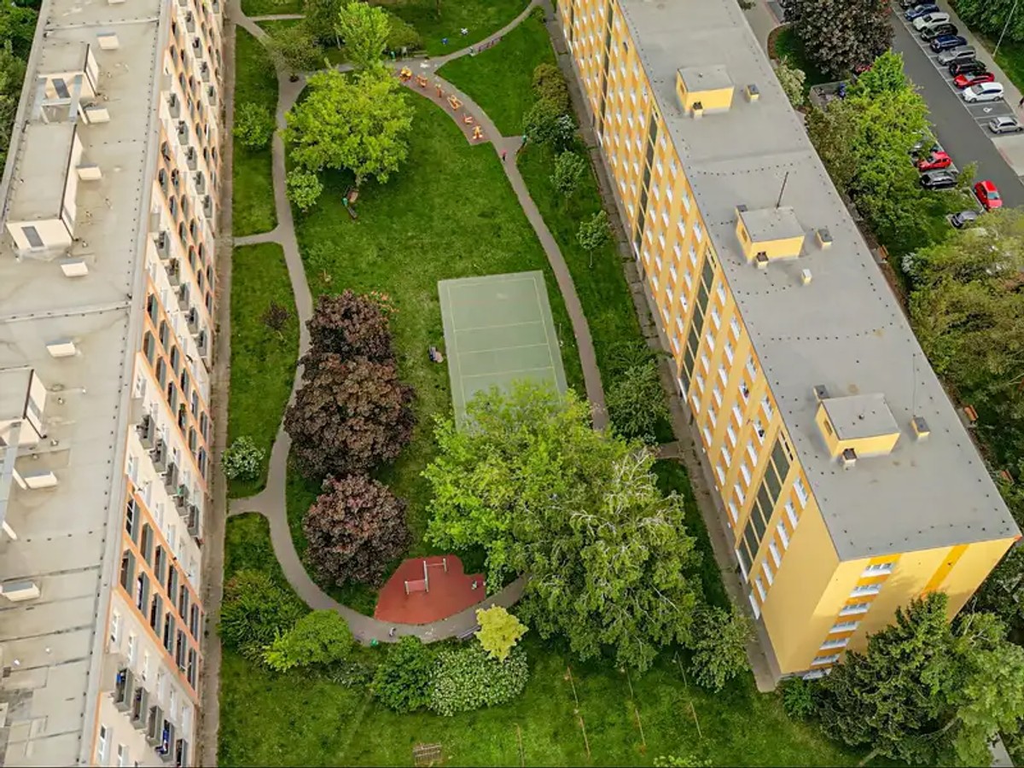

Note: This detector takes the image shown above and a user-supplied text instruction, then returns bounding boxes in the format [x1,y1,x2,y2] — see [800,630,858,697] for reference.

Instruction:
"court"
[438,271,571,422]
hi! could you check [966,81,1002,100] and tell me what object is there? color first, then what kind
white car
